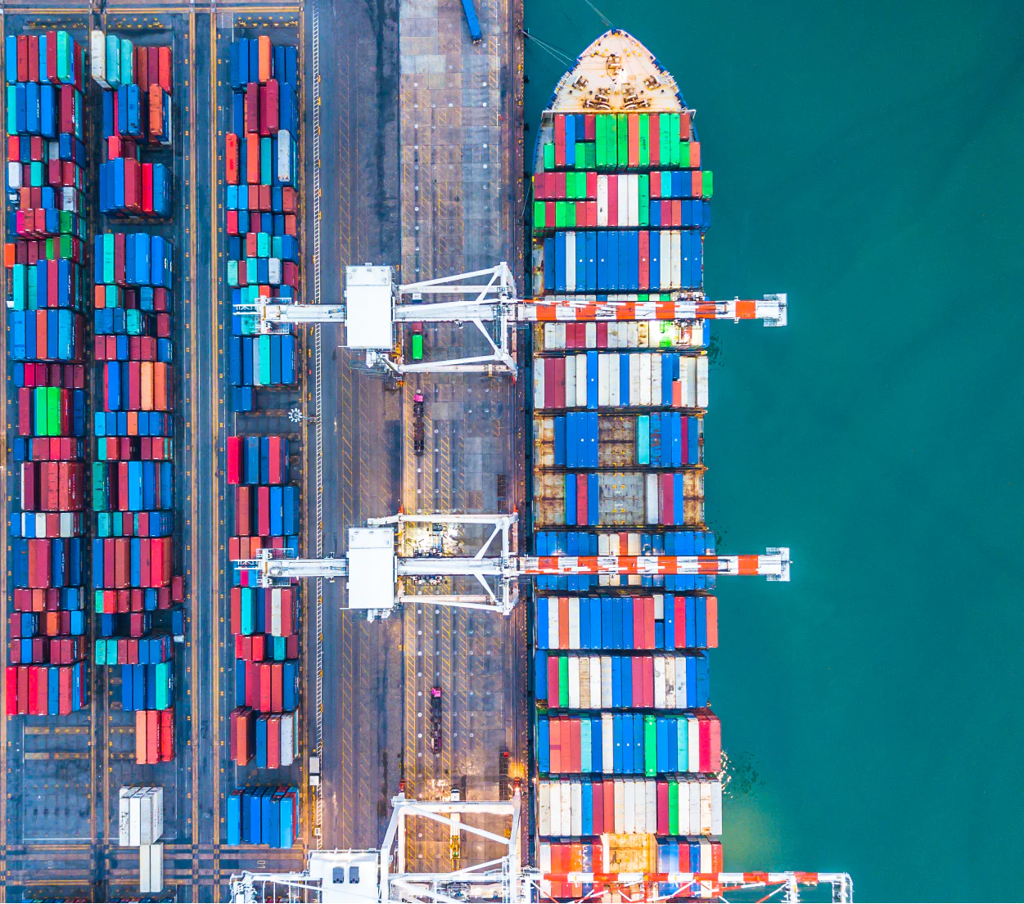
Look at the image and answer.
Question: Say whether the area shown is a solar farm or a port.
port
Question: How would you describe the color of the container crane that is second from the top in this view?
white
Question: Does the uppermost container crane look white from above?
Yes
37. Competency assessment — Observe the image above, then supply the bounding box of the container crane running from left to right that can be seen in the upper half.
[231,260,784,397]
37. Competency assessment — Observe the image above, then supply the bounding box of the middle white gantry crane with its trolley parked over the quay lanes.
[233,506,787,634]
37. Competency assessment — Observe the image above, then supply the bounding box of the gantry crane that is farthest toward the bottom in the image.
[235,781,855,904]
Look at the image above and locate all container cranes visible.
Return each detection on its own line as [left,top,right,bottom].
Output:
[233,506,787,634]
[231,260,784,397]
[235,781,855,904]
